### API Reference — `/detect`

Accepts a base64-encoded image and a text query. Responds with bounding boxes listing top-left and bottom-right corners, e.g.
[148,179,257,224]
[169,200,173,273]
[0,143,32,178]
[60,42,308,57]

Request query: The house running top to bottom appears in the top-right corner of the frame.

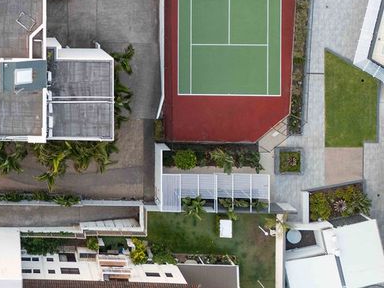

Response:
[345,0,384,82]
